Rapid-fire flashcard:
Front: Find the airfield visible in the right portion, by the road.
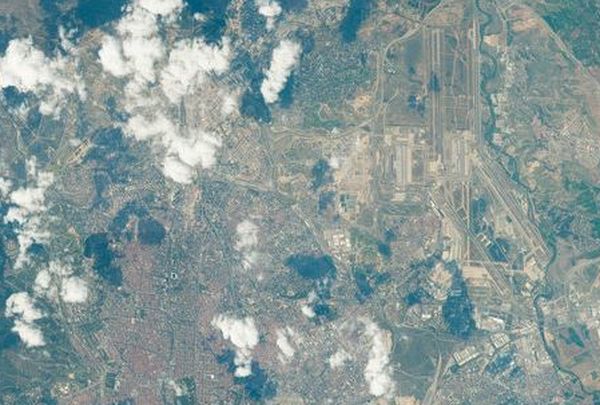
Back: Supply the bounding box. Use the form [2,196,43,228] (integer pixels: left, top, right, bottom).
[384,18,553,300]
